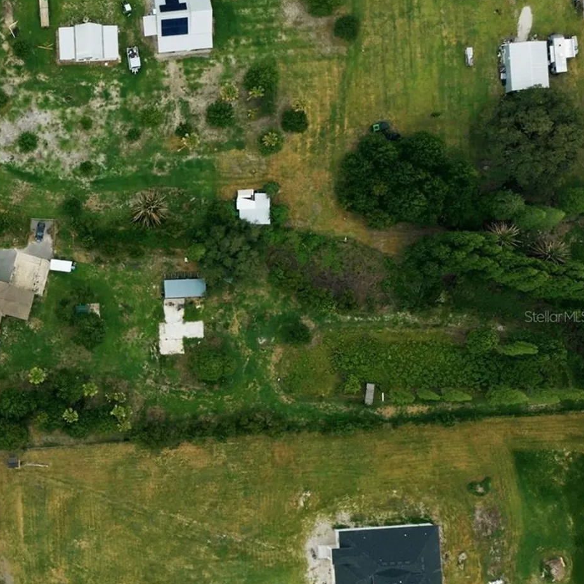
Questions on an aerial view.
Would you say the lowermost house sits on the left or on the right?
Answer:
right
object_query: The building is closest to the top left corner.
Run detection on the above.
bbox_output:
[58,25,119,65]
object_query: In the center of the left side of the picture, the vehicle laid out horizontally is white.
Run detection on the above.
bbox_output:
[50,258,81,271]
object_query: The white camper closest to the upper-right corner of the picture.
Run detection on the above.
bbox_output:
[553,32,584,71]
